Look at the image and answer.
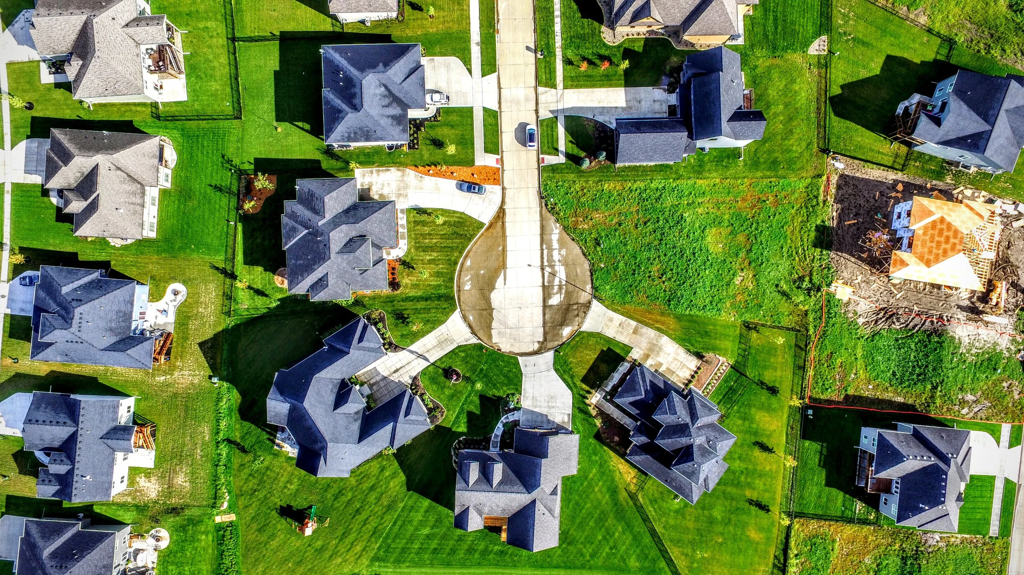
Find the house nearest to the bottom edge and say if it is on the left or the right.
left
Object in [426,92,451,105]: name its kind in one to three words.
vehicle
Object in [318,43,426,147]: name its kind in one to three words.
house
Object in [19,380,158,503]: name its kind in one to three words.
house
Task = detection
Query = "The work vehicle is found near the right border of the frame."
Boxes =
[986,284,1006,311]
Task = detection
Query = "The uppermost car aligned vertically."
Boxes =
[526,125,538,150]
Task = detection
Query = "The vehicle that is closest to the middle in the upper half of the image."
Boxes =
[458,181,485,195]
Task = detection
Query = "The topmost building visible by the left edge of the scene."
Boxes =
[27,0,190,112]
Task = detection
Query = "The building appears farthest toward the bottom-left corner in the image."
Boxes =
[17,502,129,575]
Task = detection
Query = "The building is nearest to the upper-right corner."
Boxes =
[894,72,1024,176]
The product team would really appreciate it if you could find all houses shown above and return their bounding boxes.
[318,43,426,147]
[453,427,580,553]
[30,258,172,370]
[329,0,399,20]
[613,364,737,506]
[614,0,759,40]
[614,48,766,165]
[894,72,1024,176]
[27,0,190,112]
[264,317,431,478]
[874,195,1002,292]
[855,417,972,533]
[19,380,158,503]
[43,127,171,240]
[281,177,399,301]
[17,502,129,575]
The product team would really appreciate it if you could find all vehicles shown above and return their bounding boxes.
[15,274,34,286]
[526,125,538,150]
[426,92,451,105]
[458,181,485,195]
[986,284,1006,311]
